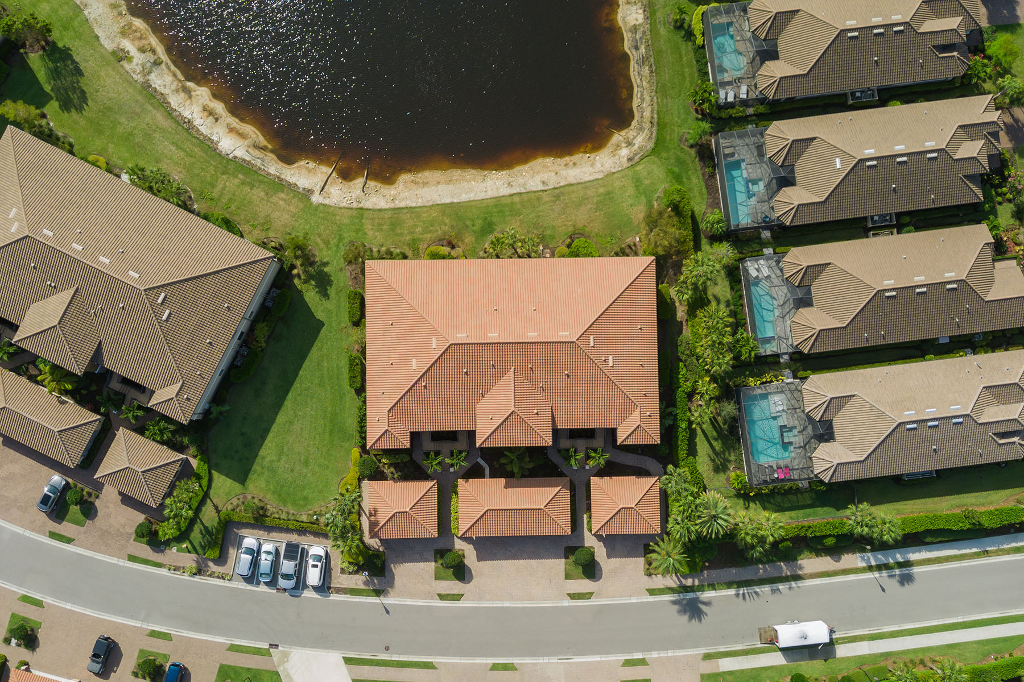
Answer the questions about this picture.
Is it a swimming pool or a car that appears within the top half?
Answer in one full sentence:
It is a swimming pool that can be seen within the top half.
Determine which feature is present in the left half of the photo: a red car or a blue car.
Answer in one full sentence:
You can see a blue car in the left half of the photo.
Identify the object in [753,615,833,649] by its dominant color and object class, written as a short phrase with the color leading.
white trailer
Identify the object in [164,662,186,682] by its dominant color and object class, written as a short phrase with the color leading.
blue car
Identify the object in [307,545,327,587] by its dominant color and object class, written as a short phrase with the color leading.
white car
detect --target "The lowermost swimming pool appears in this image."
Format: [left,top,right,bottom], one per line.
[744,392,799,464]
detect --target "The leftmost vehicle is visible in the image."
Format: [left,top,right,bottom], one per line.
[36,474,67,514]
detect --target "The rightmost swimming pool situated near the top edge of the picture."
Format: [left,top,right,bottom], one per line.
[710,20,748,78]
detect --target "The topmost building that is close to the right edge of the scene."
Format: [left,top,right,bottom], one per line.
[748,0,991,99]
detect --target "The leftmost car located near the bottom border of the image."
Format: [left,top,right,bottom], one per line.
[87,633,115,674]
